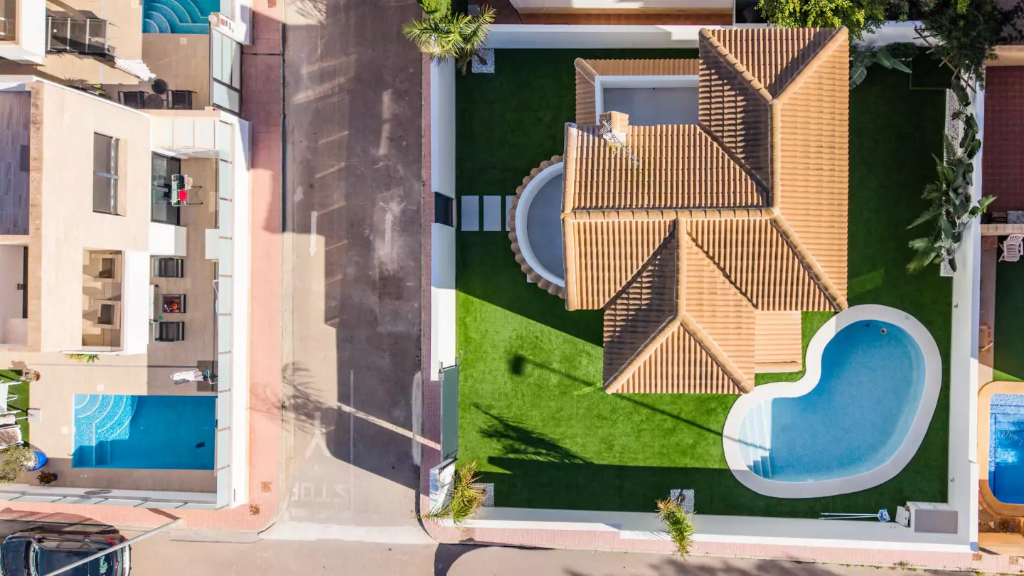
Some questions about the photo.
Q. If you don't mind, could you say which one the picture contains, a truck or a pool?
pool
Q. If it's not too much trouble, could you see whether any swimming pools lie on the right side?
Yes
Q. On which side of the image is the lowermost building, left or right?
right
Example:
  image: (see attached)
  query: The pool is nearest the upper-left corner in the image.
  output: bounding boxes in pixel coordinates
[141,0,221,34]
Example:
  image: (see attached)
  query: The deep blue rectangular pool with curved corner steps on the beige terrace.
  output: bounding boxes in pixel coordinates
[71,395,216,470]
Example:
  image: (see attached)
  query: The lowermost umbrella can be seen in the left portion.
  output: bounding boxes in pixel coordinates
[169,361,217,391]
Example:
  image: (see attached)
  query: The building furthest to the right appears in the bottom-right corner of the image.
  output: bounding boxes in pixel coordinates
[908,500,959,532]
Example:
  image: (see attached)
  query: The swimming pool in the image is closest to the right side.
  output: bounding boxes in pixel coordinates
[979,382,1024,517]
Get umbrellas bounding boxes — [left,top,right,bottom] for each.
[114,57,159,87]
[169,361,217,391]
